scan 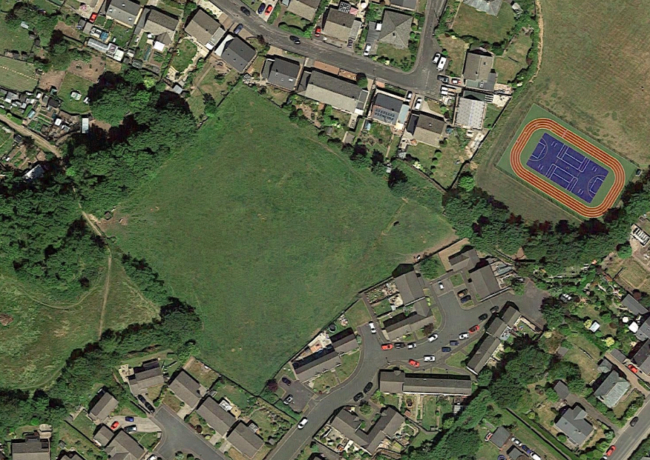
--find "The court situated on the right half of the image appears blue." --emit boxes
[526,133,609,202]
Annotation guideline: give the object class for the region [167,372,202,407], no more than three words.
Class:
house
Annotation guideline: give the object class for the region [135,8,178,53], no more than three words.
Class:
house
